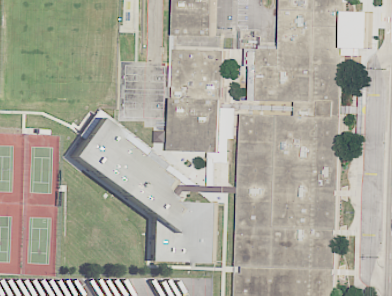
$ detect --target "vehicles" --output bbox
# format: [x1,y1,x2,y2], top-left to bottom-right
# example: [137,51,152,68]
[0,280,12,296]
[75,280,87,296]
[16,280,28,296]
[8,280,20,296]
[178,280,190,296]
[169,280,181,296]
[107,280,119,296]
[116,280,128,296]
[41,280,53,296]
[124,280,136,296]
[66,280,78,296]
[90,280,102,296]
[162,280,173,296]
[58,280,70,296]
[25,280,37,296]
[152,280,164,296]
[33,280,45,296]
[50,280,62,296]
[99,280,111,296]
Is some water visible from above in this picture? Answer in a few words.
No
